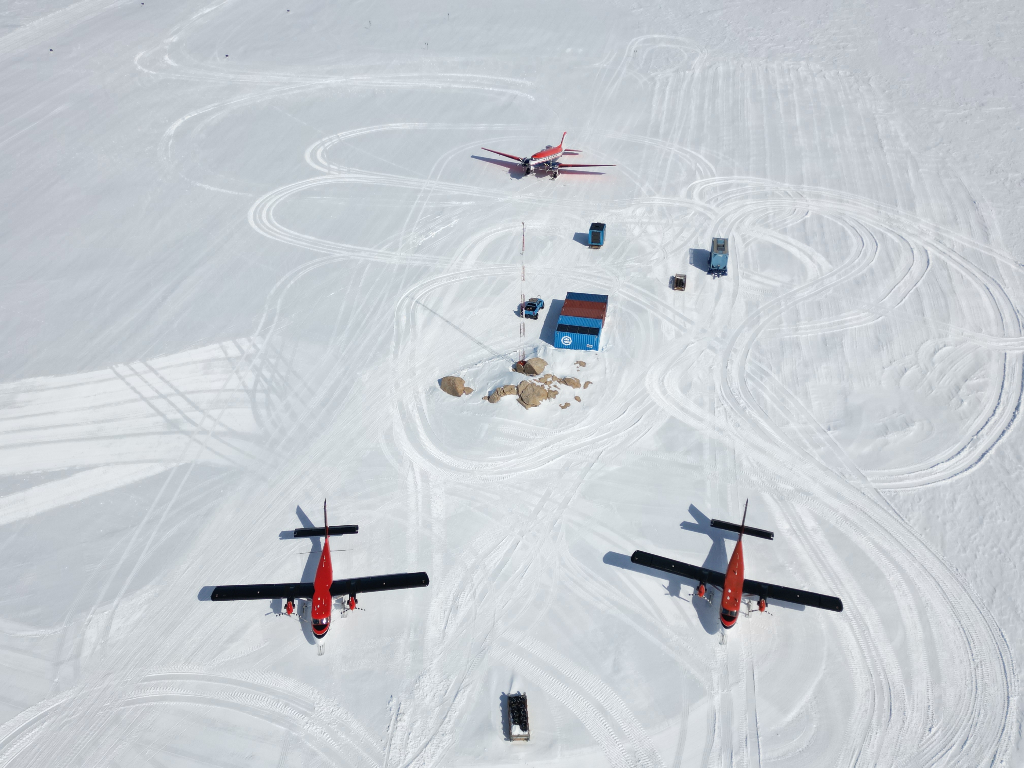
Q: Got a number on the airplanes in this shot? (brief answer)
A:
three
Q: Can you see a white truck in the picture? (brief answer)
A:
No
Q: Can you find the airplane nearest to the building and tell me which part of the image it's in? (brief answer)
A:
top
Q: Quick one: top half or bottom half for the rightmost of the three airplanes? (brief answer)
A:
bottom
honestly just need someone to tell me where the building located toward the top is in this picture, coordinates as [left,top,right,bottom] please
[588,222,604,250]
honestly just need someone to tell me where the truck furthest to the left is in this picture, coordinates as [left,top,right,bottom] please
[519,294,545,320]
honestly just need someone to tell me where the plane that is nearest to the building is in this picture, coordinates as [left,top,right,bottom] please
[482,132,617,180]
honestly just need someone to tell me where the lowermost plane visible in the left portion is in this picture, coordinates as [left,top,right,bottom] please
[212,501,429,655]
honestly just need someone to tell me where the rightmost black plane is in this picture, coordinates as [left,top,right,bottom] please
[631,500,842,644]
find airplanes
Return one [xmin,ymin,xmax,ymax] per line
[212,501,429,655]
[631,500,842,644]
[482,132,617,180]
